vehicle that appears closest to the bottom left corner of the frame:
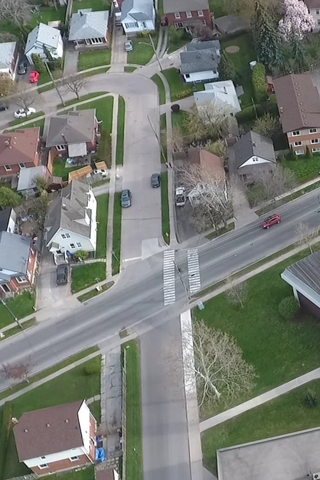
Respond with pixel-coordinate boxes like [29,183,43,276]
[54,261,69,287]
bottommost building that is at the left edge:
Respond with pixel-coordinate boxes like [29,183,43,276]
[15,399,94,469]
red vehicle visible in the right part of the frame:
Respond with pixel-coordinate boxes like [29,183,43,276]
[259,213,283,230]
